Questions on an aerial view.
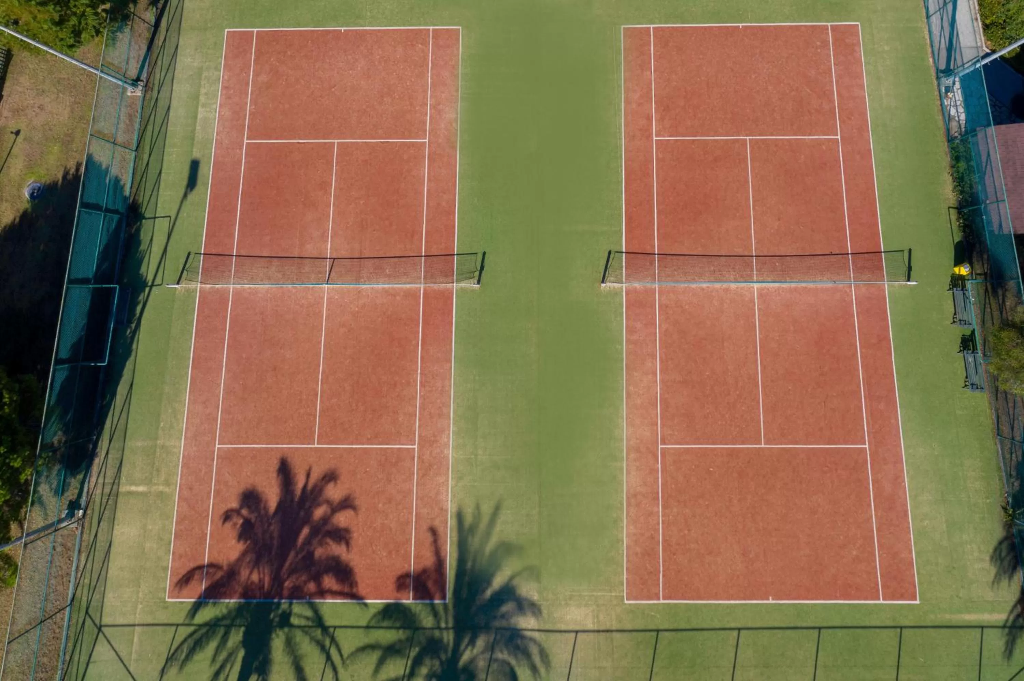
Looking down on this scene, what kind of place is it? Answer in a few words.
sports ground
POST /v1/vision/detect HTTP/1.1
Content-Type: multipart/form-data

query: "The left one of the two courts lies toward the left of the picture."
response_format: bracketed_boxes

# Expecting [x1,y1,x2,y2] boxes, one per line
[166,26,461,603]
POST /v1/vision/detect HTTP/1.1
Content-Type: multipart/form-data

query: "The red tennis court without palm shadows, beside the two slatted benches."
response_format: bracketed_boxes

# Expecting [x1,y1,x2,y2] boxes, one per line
[621,22,920,604]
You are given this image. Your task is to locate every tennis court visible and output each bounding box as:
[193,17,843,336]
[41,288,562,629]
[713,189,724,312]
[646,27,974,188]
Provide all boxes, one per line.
[166,26,461,603]
[621,22,920,604]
